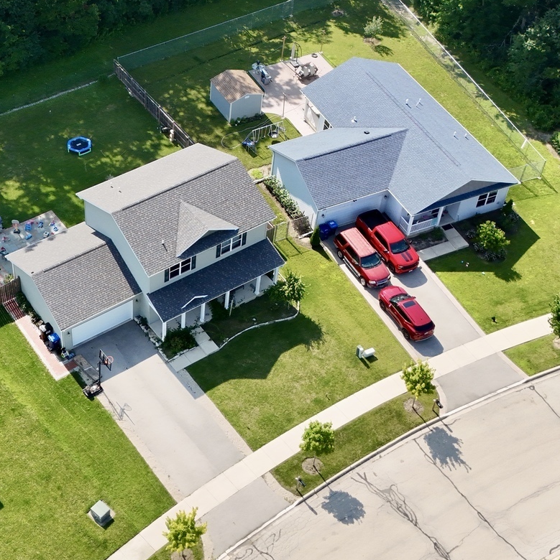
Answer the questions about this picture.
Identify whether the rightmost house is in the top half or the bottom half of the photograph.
top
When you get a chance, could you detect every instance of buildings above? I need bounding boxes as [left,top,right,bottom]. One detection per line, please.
[6,143,286,350]
[268,57,521,238]
[211,68,266,122]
